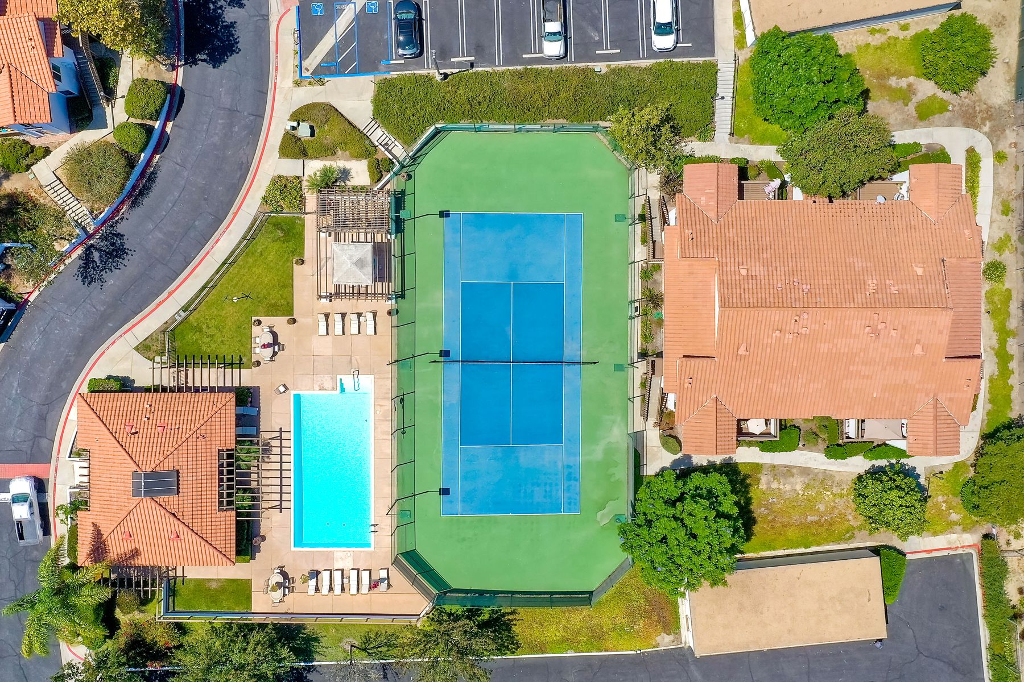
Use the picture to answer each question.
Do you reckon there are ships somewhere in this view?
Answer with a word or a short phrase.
No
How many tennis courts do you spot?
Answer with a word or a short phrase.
1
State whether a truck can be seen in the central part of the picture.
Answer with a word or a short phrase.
No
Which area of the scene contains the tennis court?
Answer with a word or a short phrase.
center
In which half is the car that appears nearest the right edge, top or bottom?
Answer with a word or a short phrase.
top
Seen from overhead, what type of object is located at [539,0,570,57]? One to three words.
truck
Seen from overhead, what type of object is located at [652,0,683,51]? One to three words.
car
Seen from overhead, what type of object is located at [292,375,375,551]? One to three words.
swimming pool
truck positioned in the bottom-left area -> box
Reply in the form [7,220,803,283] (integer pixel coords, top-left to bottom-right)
[5,478,44,551]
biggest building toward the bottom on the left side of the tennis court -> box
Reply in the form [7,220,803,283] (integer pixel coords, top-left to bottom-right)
[75,391,236,568]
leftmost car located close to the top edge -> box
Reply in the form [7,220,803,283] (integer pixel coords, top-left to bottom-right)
[391,0,422,57]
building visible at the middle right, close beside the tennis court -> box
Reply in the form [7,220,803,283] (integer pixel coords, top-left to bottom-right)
[658,160,984,458]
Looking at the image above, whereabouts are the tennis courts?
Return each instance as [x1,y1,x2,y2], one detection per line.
[398,133,630,593]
